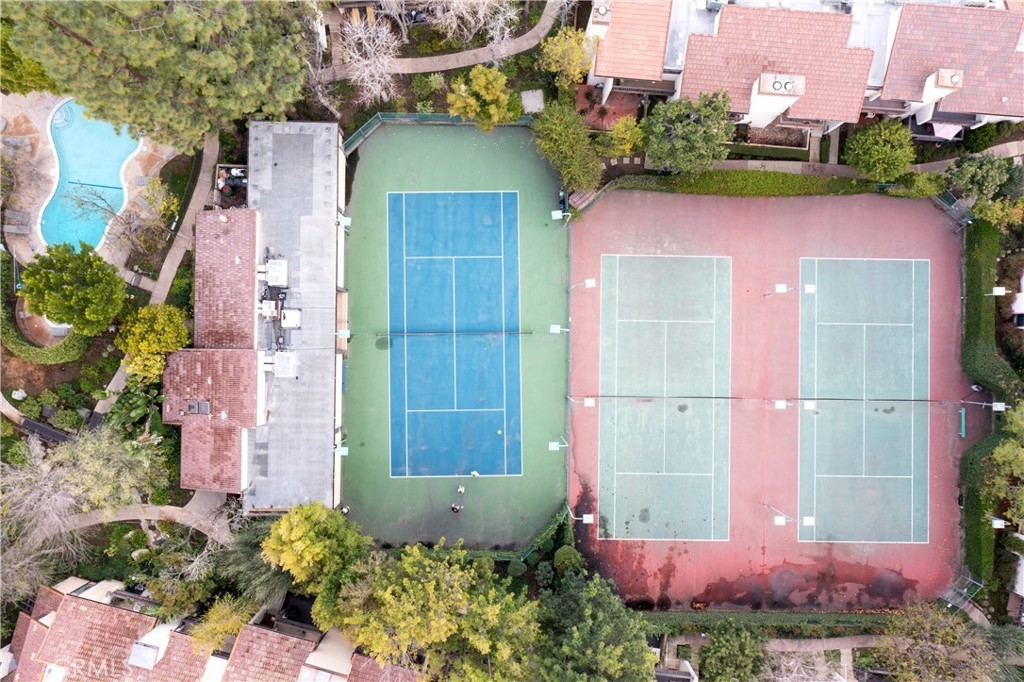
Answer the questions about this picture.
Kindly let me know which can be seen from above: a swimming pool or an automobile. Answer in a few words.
swimming pool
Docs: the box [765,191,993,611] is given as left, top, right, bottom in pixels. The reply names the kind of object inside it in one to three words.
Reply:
tennis court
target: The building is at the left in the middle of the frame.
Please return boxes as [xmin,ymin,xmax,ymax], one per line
[161,121,349,513]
